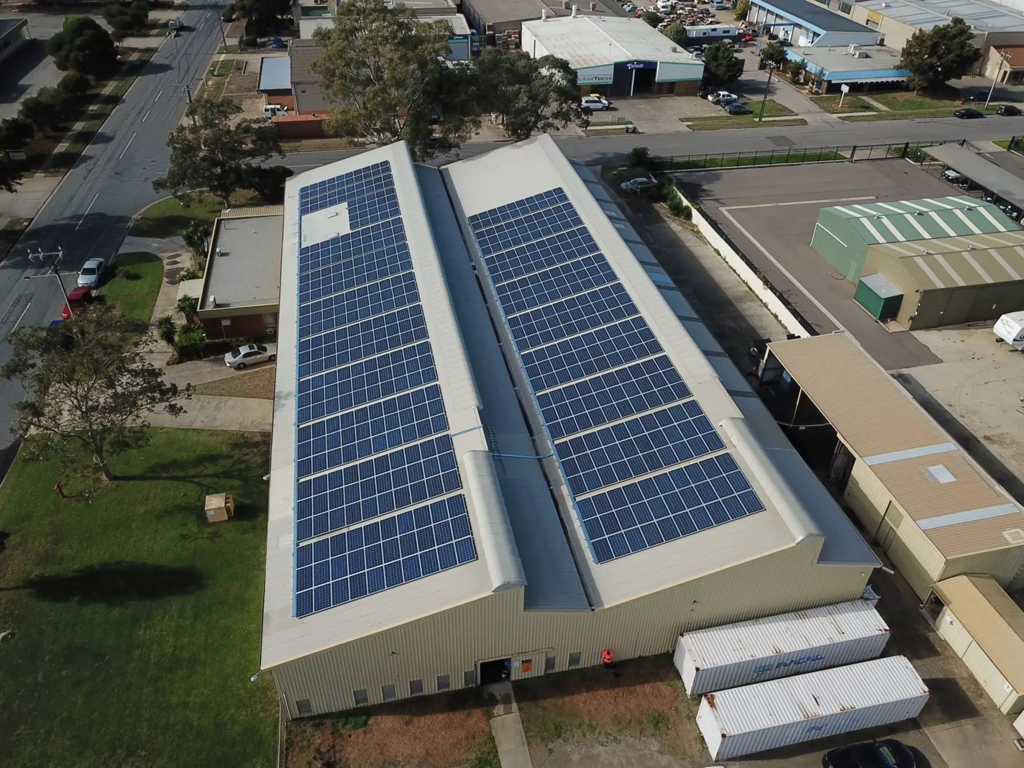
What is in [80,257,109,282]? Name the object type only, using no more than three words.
car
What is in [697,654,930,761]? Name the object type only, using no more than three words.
shipping container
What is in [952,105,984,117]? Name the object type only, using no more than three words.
vehicle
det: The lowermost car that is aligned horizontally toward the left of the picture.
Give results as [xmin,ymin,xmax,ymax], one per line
[229,340,275,366]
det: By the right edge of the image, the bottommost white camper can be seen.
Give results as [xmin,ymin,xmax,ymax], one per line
[995,309,1024,356]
